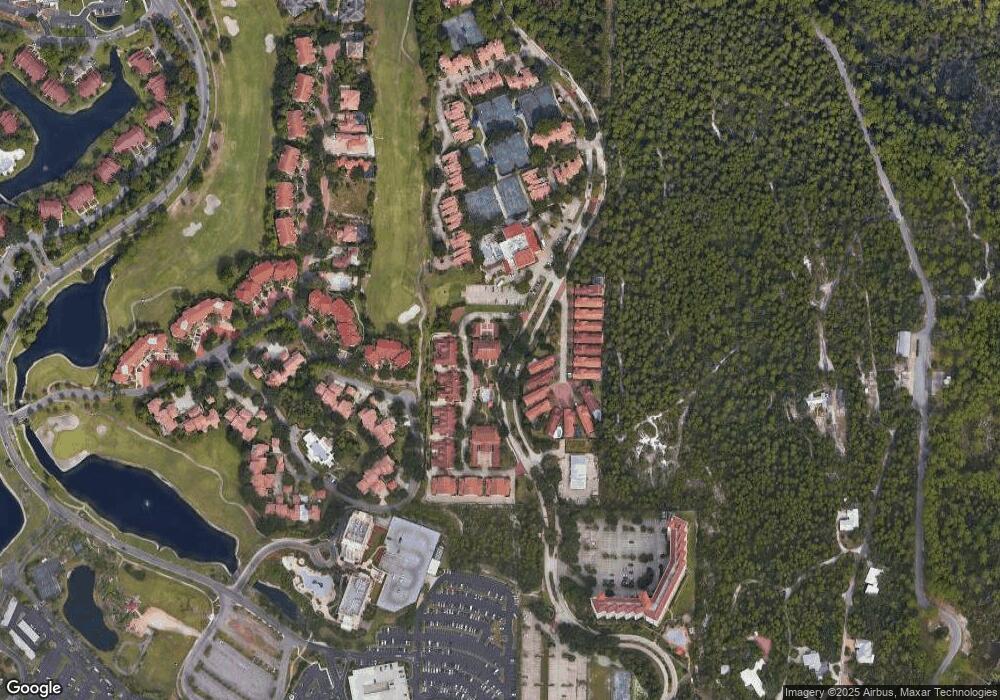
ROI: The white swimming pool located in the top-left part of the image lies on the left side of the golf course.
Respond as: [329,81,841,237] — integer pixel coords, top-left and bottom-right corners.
[0,148,24,176]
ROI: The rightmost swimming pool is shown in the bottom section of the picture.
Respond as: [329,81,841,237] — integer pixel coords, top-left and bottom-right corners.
[663,625,690,646]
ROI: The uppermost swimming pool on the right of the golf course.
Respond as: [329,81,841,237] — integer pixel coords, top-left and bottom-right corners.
[480,230,506,267]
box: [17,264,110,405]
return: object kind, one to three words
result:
pond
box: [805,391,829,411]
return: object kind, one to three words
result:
house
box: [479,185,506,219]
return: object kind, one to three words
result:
tennis court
